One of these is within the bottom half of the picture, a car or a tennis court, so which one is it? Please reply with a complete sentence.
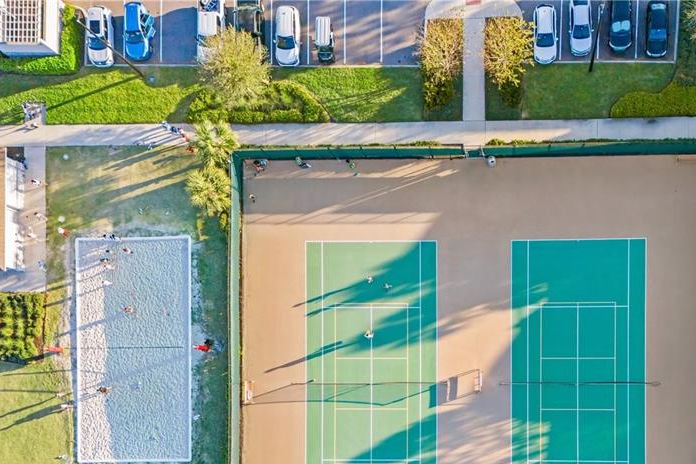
The feature located within the bottom half of the picture is a tennis court.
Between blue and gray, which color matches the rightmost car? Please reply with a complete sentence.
The color of the rightmost car is blue.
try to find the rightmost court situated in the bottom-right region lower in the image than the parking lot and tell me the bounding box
[511,238,646,464]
